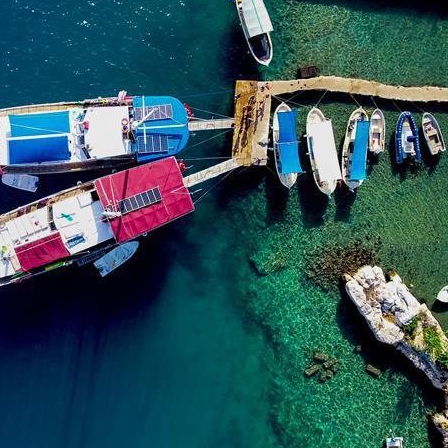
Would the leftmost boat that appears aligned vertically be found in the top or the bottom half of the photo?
top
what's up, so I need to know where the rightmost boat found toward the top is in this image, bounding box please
[419,108,445,157]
